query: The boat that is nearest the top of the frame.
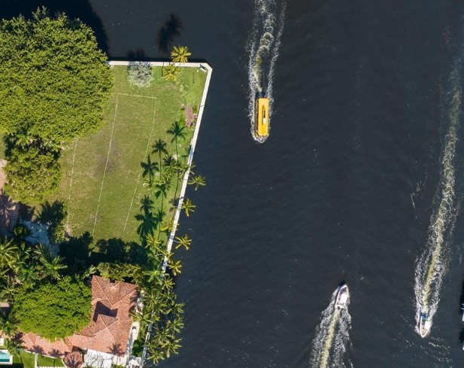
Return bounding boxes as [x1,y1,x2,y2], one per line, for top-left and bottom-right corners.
[332,284,349,313]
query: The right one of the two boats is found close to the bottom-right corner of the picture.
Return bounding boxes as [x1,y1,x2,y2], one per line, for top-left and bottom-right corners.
[418,309,431,337]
